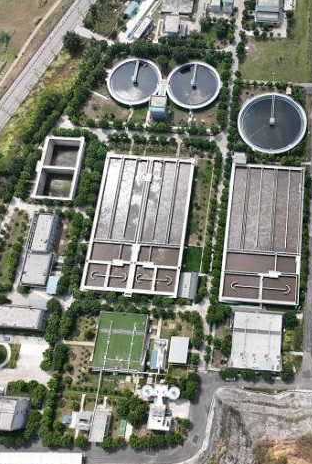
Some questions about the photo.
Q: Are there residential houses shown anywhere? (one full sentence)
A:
Yes, a residential house can be made out from above.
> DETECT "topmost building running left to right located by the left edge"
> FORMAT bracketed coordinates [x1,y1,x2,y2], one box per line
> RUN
[0,305,48,330]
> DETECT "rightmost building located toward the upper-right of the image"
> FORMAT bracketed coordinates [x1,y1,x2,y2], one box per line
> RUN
[257,0,281,26]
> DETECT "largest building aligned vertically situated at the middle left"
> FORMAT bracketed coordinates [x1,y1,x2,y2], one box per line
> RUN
[18,213,60,286]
